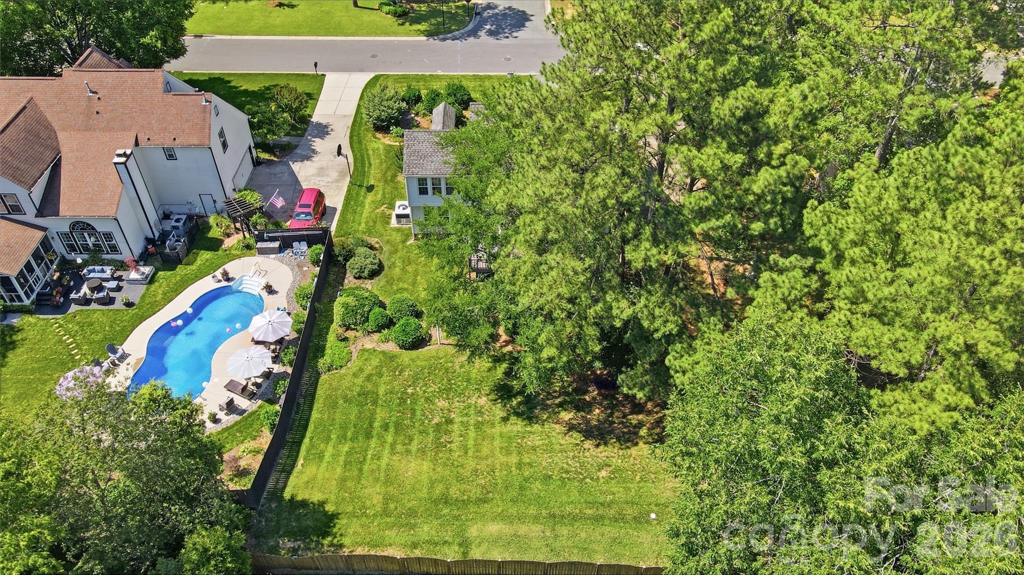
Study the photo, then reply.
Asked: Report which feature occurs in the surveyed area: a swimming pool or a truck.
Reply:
swimming pool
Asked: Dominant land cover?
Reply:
trees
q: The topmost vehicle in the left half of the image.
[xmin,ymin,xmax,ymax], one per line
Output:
[291,192,329,228]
